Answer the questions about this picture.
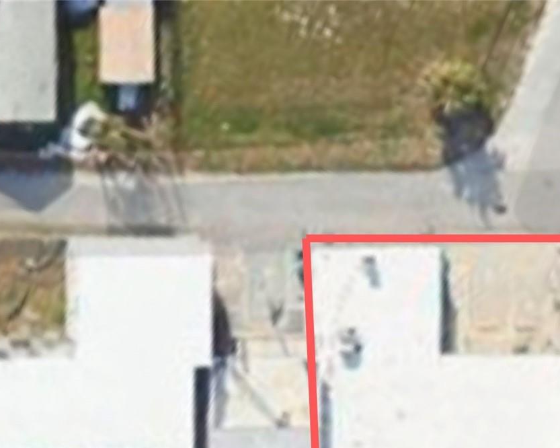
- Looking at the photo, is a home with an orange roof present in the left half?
No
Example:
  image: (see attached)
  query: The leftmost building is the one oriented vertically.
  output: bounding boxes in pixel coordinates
[0,0,57,122]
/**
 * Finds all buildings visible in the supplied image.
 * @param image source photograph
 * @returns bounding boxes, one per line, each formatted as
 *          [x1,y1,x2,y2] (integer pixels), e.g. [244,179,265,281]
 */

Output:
[0,0,57,122]
[99,0,154,109]
[0,239,213,448]
[309,245,560,448]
